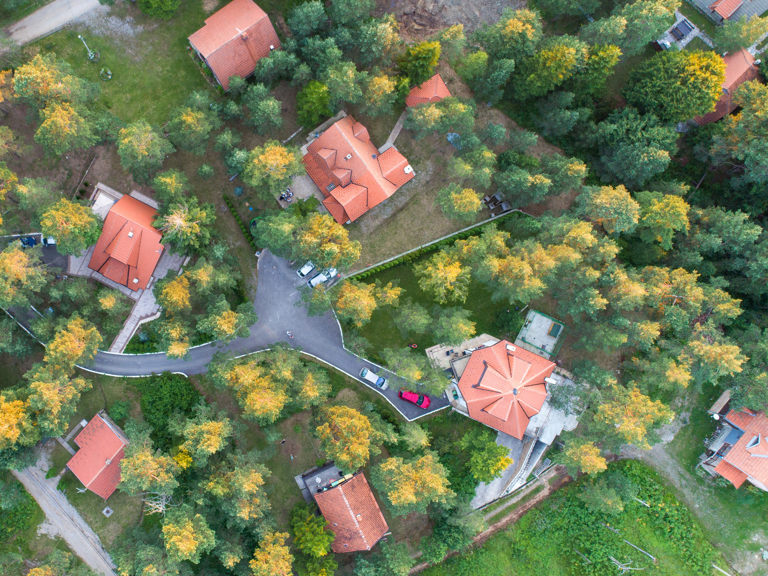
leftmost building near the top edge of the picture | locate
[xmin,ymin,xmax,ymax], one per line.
[188,0,278,91]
